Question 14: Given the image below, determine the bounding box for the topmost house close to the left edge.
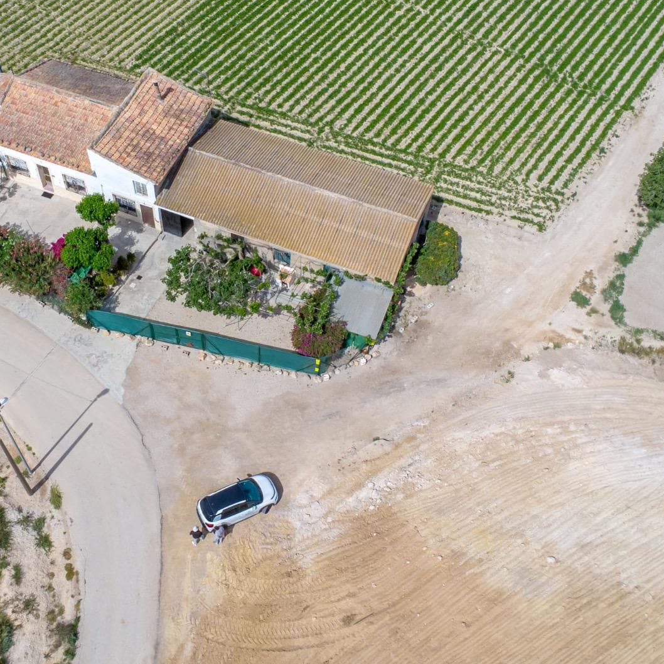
[0,55,211,232]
